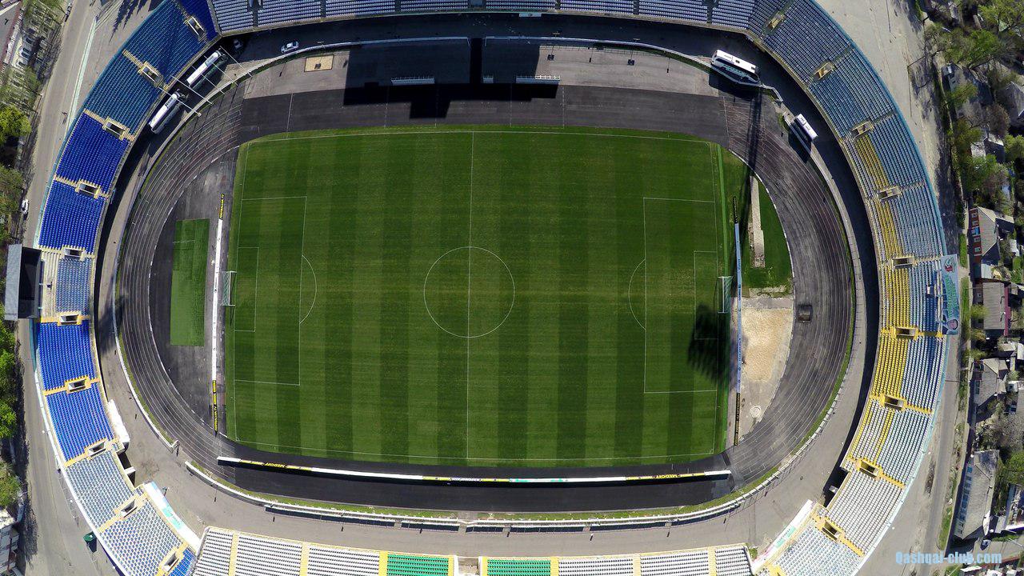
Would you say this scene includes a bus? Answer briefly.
Yes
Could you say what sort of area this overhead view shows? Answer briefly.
sports ground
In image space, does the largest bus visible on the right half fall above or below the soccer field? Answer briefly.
above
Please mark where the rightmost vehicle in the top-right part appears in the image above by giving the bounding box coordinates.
[789,111,816,144]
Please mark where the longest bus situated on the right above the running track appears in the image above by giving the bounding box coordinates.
[707,45,761,83]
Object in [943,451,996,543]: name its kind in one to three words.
house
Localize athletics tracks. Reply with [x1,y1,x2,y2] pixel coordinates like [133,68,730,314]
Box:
[119,83,850,513]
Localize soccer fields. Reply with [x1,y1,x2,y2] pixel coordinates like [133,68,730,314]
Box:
[224,125,734,467]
